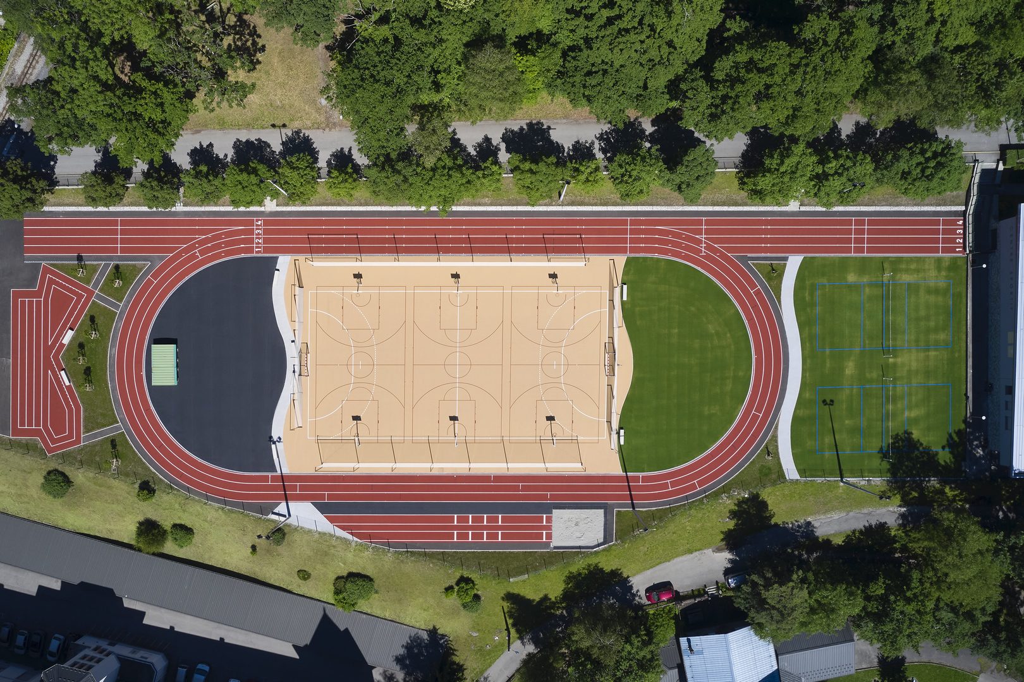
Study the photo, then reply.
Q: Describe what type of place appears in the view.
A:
sports ground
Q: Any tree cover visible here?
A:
Yes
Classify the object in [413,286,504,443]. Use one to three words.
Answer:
basketball court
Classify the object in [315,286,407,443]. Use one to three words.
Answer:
basketball court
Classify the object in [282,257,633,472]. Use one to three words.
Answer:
sports court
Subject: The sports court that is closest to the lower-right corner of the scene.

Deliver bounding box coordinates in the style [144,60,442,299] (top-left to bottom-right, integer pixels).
[817,384,952,454]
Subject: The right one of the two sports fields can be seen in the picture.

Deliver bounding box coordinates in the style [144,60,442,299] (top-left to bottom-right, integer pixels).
[790,256,967,478]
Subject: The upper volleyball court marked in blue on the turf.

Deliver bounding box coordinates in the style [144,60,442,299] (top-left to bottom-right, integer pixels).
[817,280,952,351]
